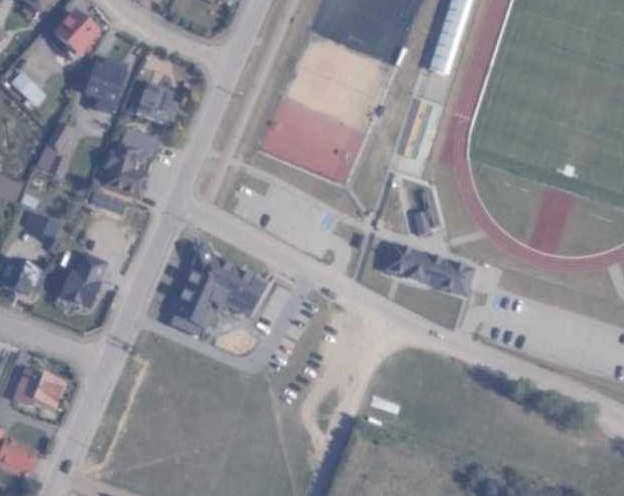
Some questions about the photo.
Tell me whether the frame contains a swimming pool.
No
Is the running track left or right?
right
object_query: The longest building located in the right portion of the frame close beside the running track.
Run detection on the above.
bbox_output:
[375,243,477,300]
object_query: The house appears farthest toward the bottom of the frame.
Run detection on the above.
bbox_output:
[1,441,40,474]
